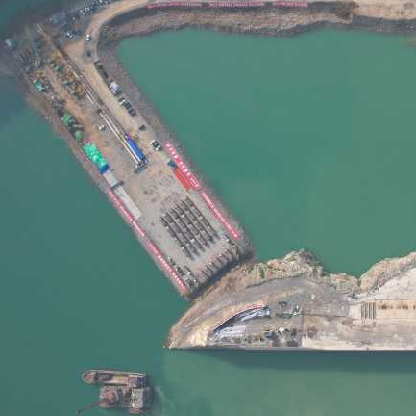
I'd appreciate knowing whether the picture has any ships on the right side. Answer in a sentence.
No, no ship is visible on the right side.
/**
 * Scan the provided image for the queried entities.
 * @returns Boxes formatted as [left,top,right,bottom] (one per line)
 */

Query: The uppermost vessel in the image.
[80,371,147,392]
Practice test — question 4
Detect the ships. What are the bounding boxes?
[79,387,152,412]
[80,371,147,392]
